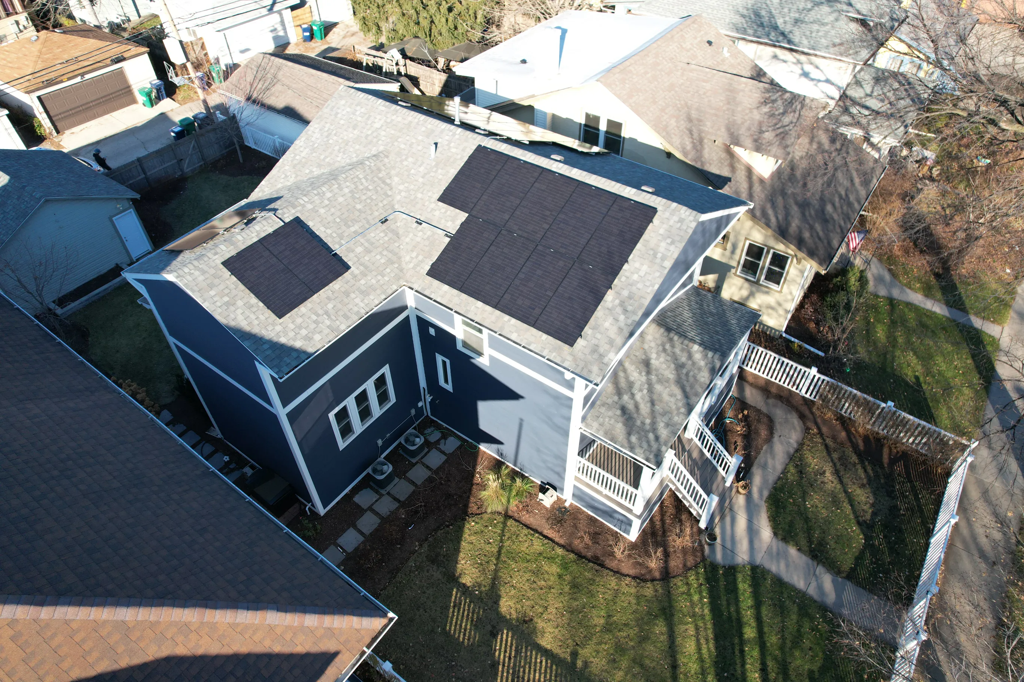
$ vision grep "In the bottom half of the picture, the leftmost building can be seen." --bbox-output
[0,294,397,682]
